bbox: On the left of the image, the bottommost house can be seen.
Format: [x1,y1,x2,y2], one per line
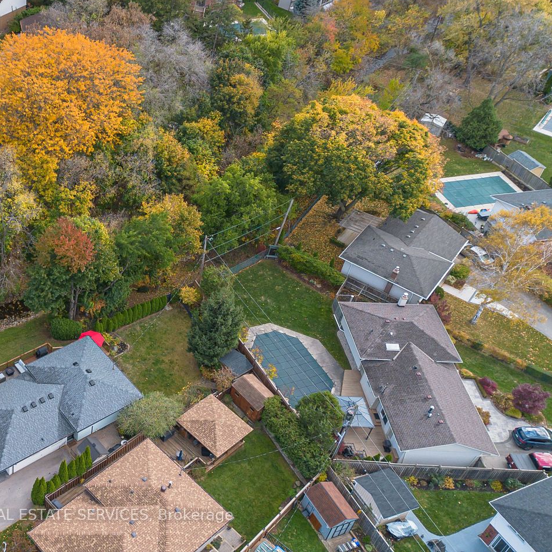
[27,438,234,552]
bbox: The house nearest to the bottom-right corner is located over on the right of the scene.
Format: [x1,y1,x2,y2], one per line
[484,476,552,552]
